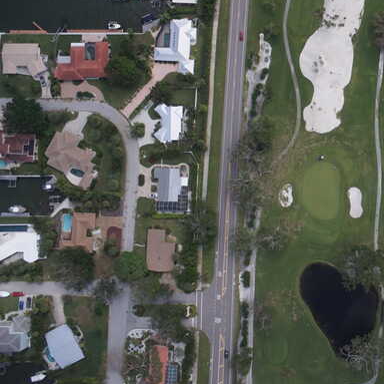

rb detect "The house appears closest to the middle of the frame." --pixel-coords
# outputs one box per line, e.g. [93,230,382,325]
[154,167,189,201]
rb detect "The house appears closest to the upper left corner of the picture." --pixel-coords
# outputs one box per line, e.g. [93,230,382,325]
[2,43,50,79]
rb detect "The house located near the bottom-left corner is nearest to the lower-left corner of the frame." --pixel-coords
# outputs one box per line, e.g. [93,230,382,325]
[0,315,34,352]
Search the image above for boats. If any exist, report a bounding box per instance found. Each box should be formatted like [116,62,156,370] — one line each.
[28,375,47,383]
[106,22,121,28]
[140,14,157,24]
[39,184,55,189]
[6,206,25,212]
